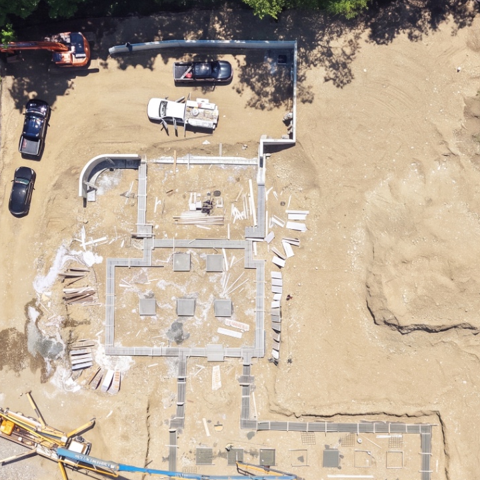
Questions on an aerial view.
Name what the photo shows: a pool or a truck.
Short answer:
truck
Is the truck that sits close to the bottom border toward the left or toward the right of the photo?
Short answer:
left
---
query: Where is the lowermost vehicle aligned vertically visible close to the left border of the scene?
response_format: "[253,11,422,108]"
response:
[7,165,34,216]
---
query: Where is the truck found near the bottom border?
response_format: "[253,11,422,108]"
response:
[0,389,299,480]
